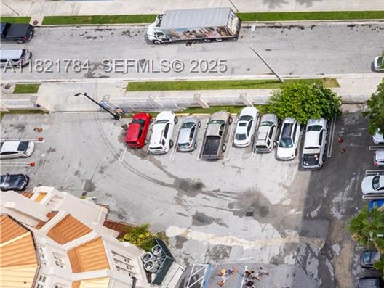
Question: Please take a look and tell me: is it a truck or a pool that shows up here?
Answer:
truck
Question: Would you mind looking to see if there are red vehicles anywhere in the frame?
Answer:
Yes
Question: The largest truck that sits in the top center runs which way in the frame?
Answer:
from side to side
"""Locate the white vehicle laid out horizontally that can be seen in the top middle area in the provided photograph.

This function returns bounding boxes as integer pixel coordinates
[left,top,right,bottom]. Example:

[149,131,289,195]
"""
[144,7,239,49]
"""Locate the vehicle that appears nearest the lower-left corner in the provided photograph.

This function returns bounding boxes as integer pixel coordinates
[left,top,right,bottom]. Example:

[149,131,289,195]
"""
[0,171,34,192]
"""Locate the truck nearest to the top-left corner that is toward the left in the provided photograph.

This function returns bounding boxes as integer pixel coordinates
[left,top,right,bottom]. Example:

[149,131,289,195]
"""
[0,22,31,45]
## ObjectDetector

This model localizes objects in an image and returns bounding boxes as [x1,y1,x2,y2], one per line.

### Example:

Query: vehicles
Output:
[276,119,304,161]
[301,120,329,170]
[0,22,31,45]
[233,110,261,149]
[128,115,157,150]
[254,116,283,155]
[148,113,180,155]
[178,119,204,154]
[361,172,384,196]
[0,46,32,70]
[360,248,384,268]
[200,113,235,161]
[370,151,384,170]
[368,195,384,212]
[373,130,384,147]
[0,171,34,192]
[144,7,239,49]
[0,137,40,162]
